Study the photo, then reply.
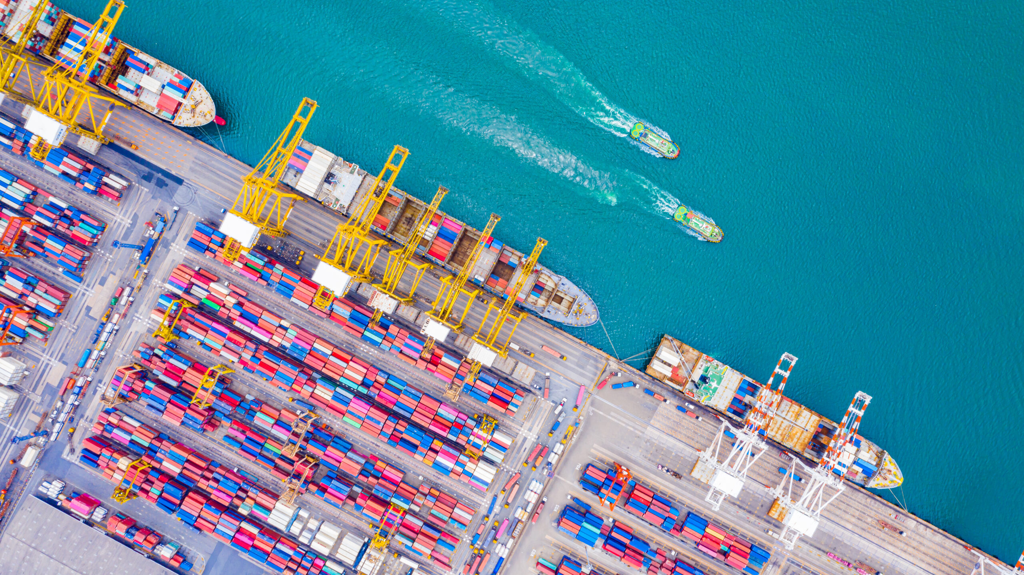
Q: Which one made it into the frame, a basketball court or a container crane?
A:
container crane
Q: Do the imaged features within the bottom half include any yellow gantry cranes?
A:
Yes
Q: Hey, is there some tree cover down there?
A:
No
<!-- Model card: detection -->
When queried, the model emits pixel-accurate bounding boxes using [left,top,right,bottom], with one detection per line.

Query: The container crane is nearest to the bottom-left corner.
[111,456,153,502]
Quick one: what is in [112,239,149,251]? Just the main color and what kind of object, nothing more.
blue vehicle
